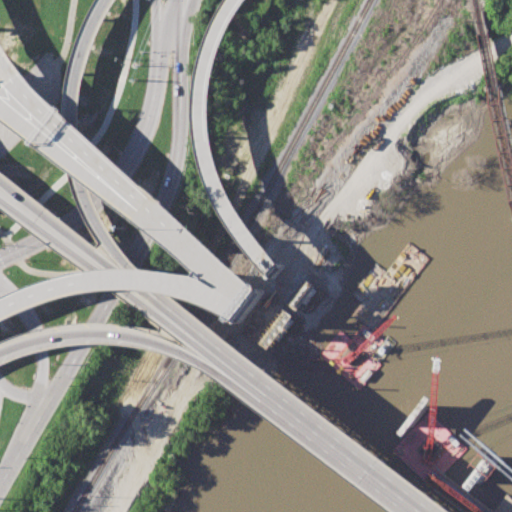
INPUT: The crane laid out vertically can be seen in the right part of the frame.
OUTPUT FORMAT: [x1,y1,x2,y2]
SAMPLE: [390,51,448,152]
[422,354,452,460]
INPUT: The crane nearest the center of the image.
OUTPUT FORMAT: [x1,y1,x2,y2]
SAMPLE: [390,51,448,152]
[322,316,398,370]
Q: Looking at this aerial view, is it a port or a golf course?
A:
port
